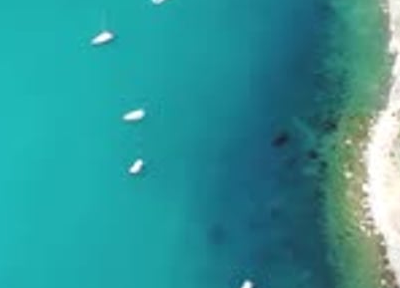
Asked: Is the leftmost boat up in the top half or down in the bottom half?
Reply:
top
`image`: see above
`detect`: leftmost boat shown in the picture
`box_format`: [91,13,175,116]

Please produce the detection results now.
[91,14,115,42]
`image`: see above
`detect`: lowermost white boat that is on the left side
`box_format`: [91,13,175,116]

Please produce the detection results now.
[128,157,144,174]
